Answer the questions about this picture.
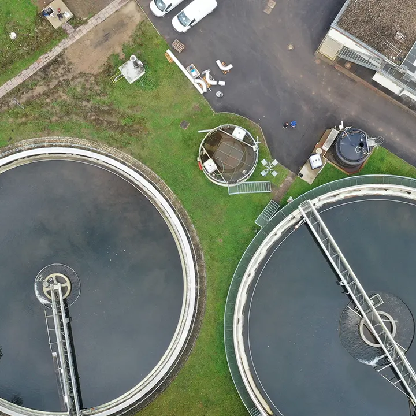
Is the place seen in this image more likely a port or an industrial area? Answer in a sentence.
The picture captures an industrial area.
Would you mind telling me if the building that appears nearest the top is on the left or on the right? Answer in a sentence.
The building that appears nearest the top is on the left side of the image.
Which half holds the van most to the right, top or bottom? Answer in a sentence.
Seen from above, the van most to the right lies in the top half of the view.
